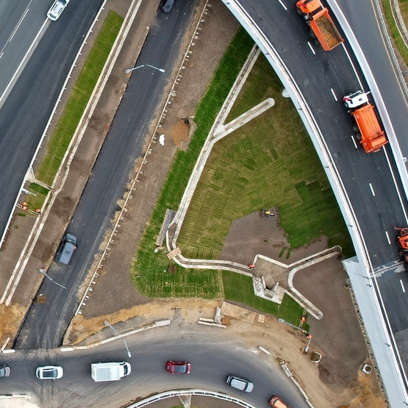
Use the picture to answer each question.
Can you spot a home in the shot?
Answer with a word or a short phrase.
No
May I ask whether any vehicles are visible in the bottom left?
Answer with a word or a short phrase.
Yes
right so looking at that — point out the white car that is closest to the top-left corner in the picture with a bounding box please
[46,0,68,22]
